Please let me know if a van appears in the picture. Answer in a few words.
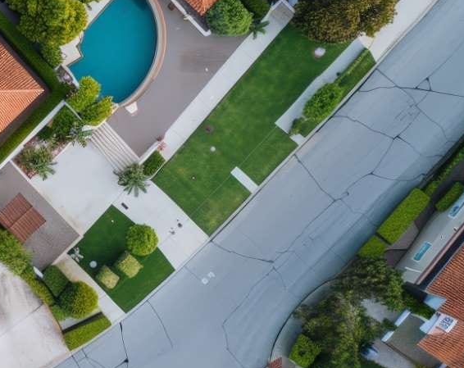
No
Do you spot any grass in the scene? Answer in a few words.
Yes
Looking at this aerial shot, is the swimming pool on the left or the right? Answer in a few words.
left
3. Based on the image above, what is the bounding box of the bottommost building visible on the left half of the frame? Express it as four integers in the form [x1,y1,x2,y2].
[0,193,46,243]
